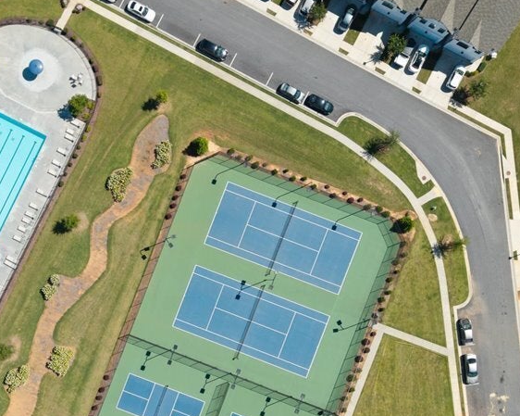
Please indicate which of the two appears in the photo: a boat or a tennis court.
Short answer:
tennis court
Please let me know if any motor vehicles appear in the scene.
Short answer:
Yes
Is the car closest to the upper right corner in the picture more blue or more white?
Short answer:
white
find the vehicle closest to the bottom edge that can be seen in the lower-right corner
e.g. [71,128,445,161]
[462,353,478,383]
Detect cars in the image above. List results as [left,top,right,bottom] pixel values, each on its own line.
[337,3,358,34]
[284,0,299,10]
[299,0,317,17]
[445,62,467,92]
[303,93,333,116]
[407,43,430,74]
[462,353,478,383]
[276,81,305,104]
[457,316,473,346]
[196,39,227,62]
[126,1,155,23]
